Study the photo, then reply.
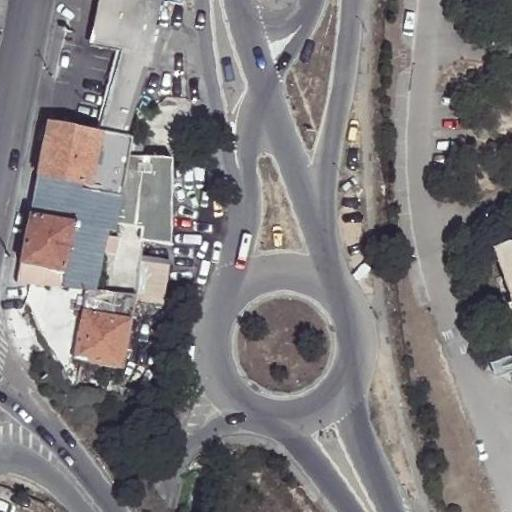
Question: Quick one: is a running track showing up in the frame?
No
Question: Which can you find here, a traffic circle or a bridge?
traffic circle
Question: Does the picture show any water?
No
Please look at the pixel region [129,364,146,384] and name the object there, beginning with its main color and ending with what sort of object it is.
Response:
white car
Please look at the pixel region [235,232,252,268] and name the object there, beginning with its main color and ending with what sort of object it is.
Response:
white vehicle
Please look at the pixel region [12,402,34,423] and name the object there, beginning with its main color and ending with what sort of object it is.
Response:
white car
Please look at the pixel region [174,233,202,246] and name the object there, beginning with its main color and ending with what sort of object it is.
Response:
white vehicle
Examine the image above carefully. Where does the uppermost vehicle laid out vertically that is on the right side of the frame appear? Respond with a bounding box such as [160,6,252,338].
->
[402,10,414,36]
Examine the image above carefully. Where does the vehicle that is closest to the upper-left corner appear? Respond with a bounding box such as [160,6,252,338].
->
[56,2,76,21]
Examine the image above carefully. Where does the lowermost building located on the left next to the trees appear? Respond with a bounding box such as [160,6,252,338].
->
[73,308,136,370]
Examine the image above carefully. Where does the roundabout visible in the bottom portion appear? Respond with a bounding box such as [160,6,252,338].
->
[232,290,338,400]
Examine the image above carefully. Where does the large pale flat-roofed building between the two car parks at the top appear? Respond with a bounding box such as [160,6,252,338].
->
[90,0,154,130]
